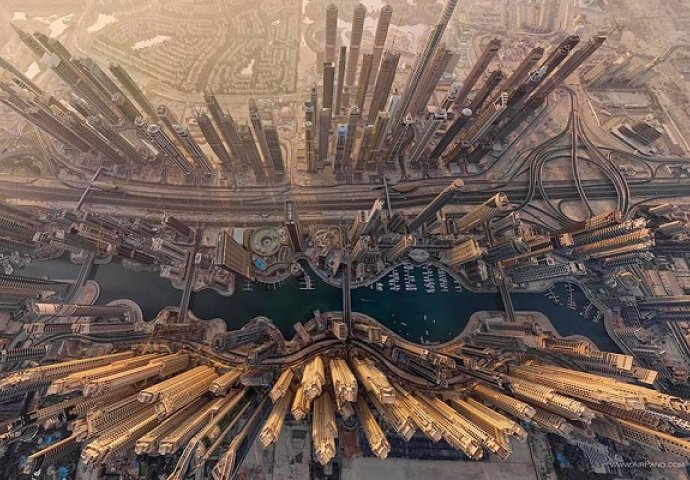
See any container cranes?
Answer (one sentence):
No, this view has no container crane in it.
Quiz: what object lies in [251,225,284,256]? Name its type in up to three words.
building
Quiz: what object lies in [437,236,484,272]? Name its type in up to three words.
building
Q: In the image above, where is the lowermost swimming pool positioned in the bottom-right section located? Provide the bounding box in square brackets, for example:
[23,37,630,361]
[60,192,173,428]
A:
[555,448,570,467]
